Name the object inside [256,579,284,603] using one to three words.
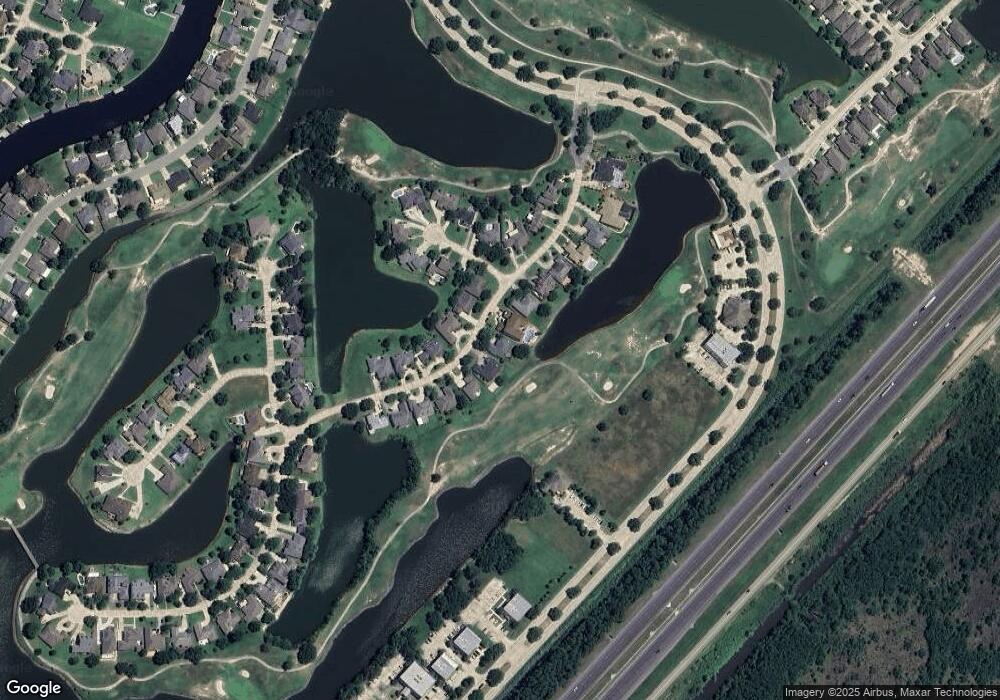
house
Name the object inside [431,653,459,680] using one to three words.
building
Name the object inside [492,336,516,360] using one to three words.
house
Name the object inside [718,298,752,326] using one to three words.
building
